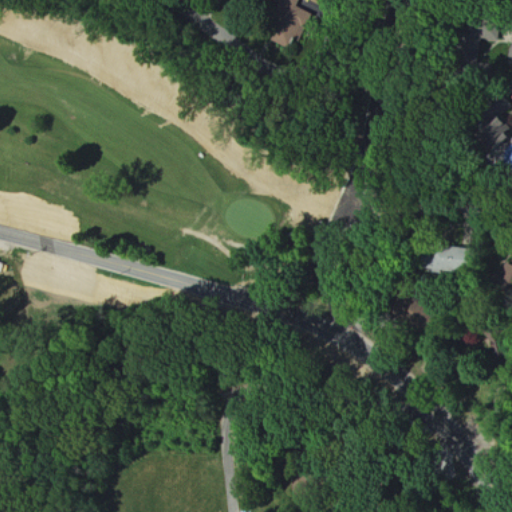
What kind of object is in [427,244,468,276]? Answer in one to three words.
house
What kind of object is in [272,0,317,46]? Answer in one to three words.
house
